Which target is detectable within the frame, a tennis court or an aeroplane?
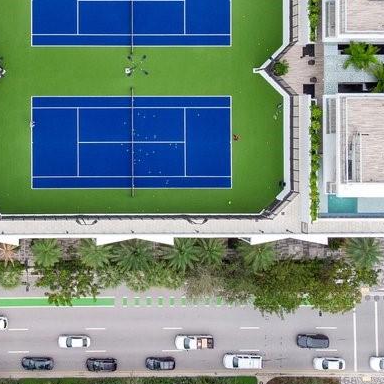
tennis court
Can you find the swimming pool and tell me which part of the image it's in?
right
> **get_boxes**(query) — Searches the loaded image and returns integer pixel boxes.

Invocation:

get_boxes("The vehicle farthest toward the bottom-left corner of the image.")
[21,355,54,372]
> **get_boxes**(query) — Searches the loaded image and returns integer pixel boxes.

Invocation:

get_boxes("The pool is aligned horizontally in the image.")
[317,193,384,217]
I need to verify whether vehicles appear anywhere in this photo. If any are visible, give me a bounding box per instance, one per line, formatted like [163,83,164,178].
[311,355,345,371]
[0,314,8,330]
[21,355,54,372]
[221,352,266,372]
[295,332,331,349]
[174,333,216,351]
[368,355,384,371]
[145,355,177,371]
[86,356,118,373]
[57,333,90,349]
